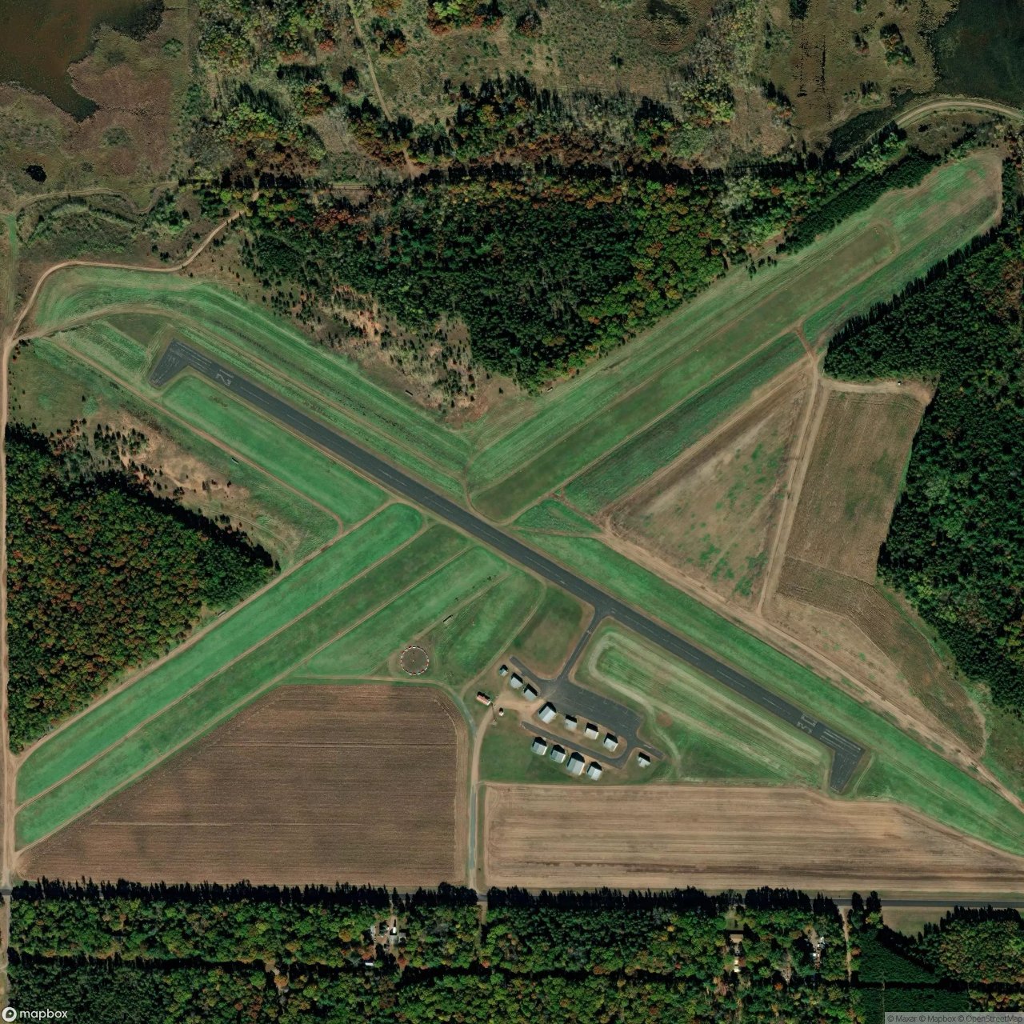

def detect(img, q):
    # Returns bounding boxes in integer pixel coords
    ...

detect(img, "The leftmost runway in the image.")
[18,525,471,848]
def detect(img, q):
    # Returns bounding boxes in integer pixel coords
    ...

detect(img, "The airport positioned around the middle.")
[18,226,895,848]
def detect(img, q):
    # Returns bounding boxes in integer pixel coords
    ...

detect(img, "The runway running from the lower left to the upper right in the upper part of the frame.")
[476,226,895,519]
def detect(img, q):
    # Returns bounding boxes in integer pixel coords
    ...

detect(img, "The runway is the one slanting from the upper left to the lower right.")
[150,338,865,793]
